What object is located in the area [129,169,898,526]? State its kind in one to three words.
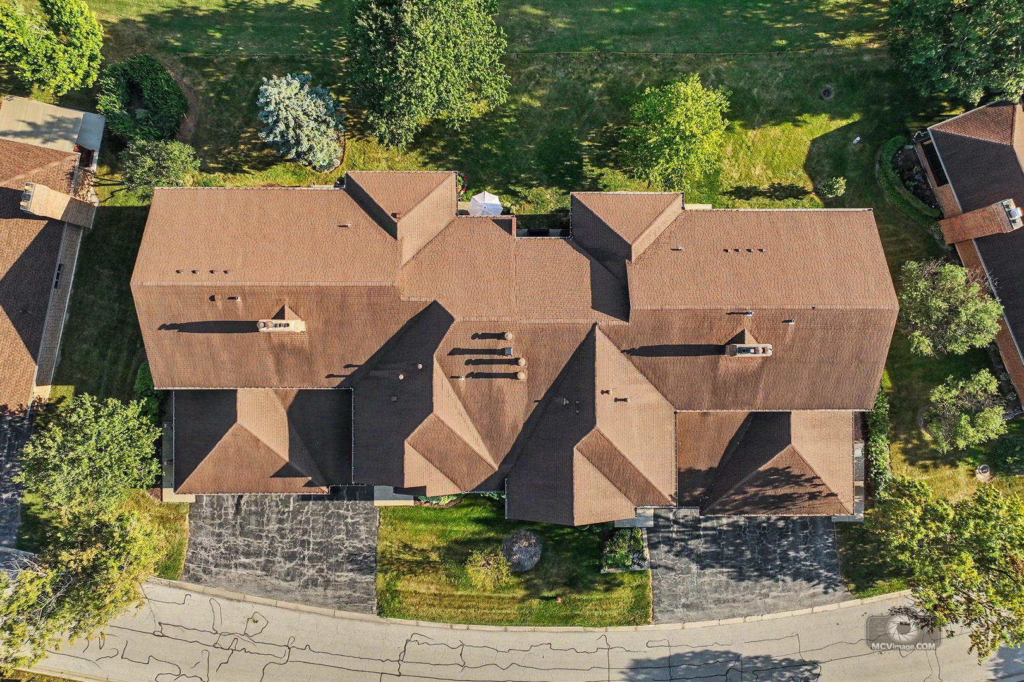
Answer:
house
